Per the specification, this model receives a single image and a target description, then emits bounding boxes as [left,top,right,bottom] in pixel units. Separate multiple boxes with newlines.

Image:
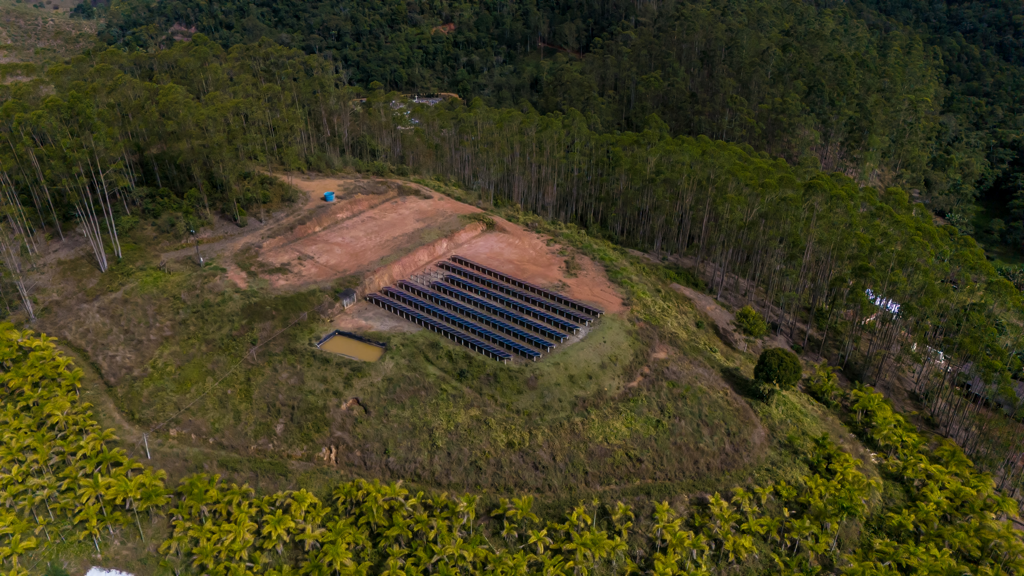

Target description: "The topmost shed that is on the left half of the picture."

[332,288,357,309]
